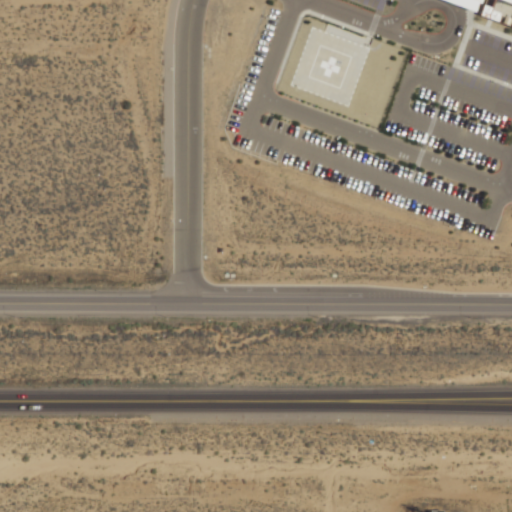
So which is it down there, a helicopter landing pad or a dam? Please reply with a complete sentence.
Visible in the photo is a helicopter landing pad.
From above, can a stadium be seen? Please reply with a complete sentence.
No, no stadium is visible in the view.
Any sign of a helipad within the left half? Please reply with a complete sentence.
No, there is no helipad within the left half.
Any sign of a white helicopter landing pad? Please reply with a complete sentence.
Yes, there's a white helicopter landing pad down there.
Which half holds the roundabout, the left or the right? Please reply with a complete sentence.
It is on the right.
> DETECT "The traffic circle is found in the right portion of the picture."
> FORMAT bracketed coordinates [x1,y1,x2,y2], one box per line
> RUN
[396,0,467,54]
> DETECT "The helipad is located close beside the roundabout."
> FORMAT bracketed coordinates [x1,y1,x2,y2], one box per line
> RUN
[291,27,370,106]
